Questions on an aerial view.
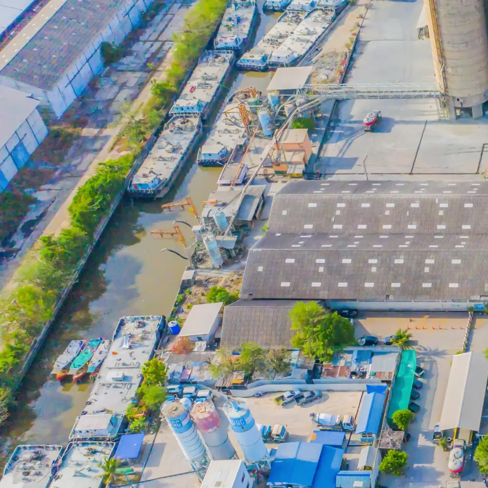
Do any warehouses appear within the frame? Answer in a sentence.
Yes, the image includes a warehouse.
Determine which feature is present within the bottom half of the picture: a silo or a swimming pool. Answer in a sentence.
There is a silo within the bottom half of the picture.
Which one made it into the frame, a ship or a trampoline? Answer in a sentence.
I can see a ship in this picture.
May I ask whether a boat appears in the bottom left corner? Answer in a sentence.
Yes, the scene does show a boat in the bottom left corner.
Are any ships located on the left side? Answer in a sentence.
Yes, a ship appears on the left side.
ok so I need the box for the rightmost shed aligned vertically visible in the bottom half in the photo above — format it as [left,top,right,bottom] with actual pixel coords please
[440,352,488,446]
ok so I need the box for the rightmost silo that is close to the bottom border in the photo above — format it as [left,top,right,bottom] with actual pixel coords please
[222,388,277,482]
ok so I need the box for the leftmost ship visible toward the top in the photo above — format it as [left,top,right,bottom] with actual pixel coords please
[126,115,202,200]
